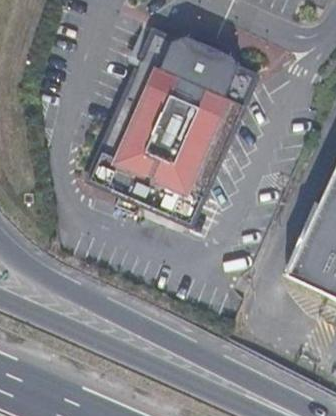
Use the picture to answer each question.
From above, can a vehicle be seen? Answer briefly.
Yes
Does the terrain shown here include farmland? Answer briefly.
No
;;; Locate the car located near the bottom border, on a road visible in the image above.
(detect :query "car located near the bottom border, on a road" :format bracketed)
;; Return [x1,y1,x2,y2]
[308,403,329,416]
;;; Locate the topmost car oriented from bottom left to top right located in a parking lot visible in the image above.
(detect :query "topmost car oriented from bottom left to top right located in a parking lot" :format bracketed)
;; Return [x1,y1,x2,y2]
[145,0,166,16]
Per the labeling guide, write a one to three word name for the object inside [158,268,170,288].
vehicle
